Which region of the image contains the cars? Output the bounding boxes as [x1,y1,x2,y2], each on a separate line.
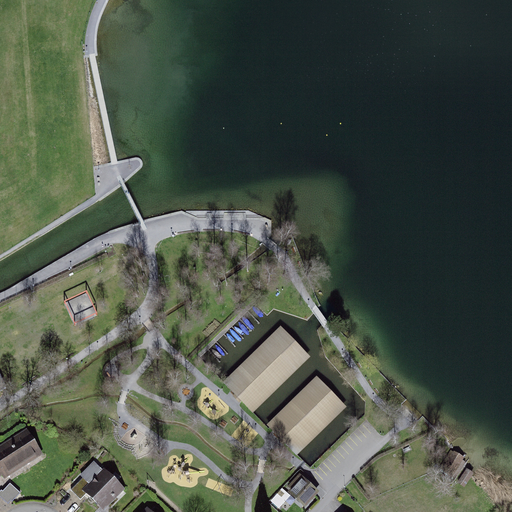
[68,502,79,512]
[60,494,70,504]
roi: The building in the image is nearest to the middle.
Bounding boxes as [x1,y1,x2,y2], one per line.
[224,326,310,412]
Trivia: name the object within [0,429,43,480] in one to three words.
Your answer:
house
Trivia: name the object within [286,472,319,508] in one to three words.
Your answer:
building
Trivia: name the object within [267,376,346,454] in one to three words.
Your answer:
building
